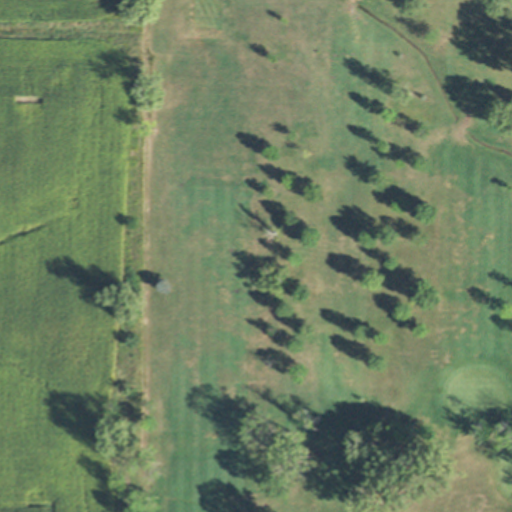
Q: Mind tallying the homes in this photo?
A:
0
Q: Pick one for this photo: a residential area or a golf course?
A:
golf course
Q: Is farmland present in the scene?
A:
Yes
